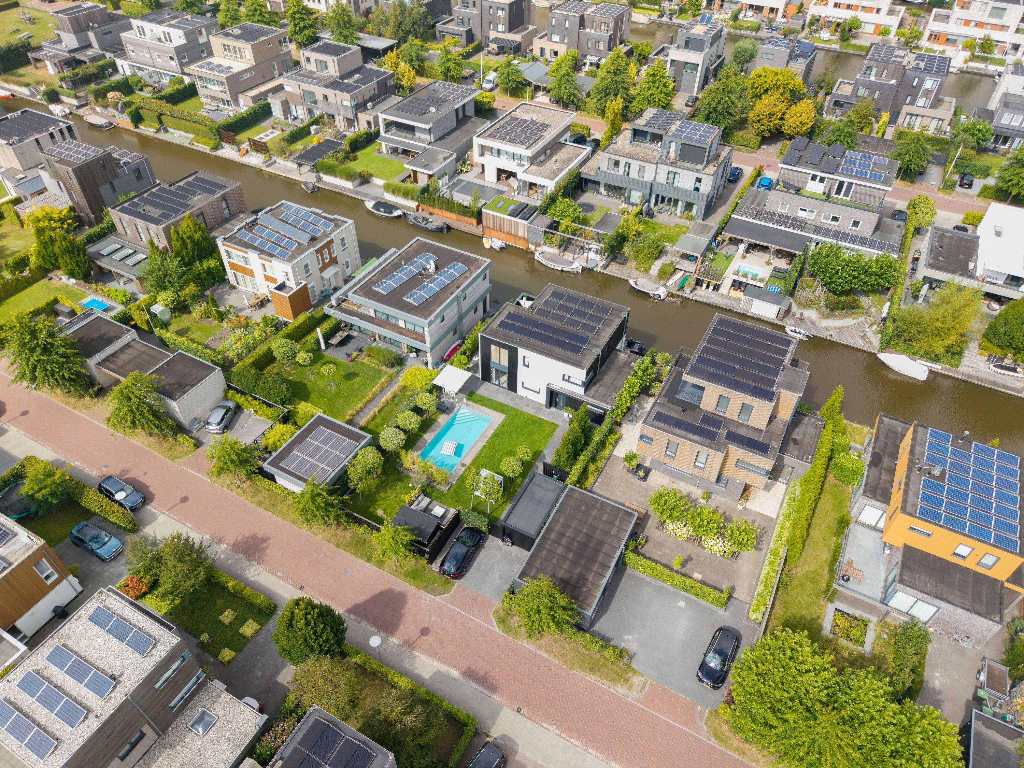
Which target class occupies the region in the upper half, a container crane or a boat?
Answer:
boat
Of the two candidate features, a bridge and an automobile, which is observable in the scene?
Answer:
automobile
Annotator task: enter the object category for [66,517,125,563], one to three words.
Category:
car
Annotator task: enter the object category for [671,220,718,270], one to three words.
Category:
shed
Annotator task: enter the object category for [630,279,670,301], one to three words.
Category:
boat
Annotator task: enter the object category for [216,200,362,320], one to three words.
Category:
house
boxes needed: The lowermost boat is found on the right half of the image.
[877,351,931,382]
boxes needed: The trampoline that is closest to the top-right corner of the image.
[574,201,598,214]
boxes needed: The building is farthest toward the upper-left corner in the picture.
[28,2,131,75]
